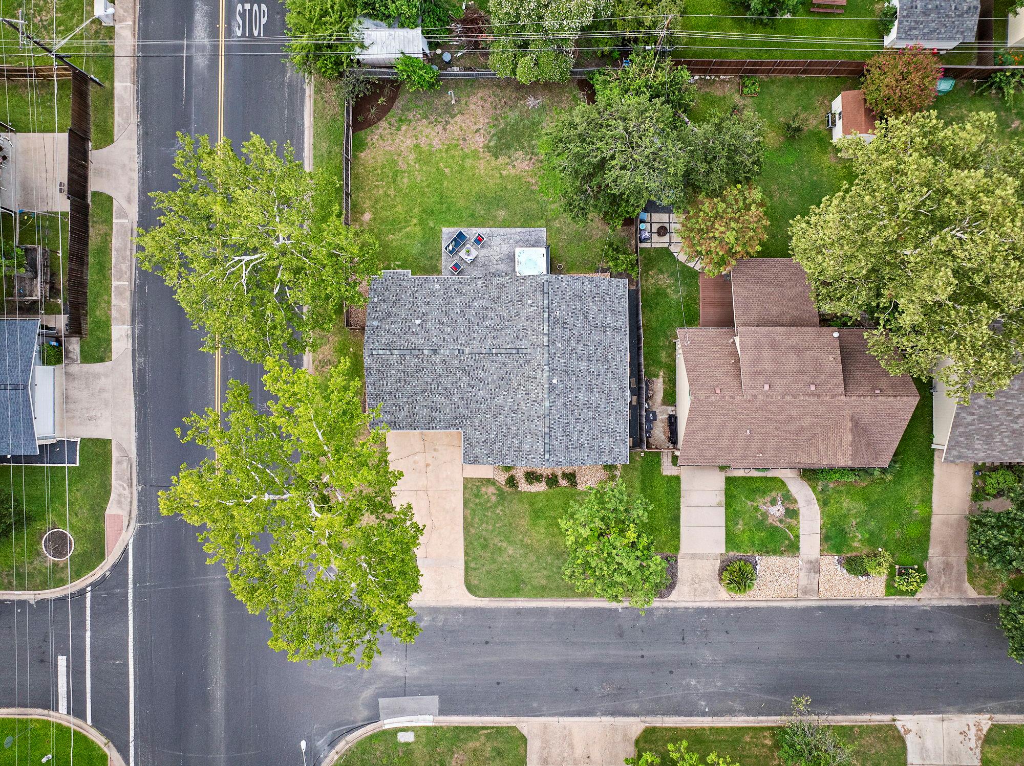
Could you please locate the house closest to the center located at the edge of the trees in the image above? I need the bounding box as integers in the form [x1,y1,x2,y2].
[365,269,633,467]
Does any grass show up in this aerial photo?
Yes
